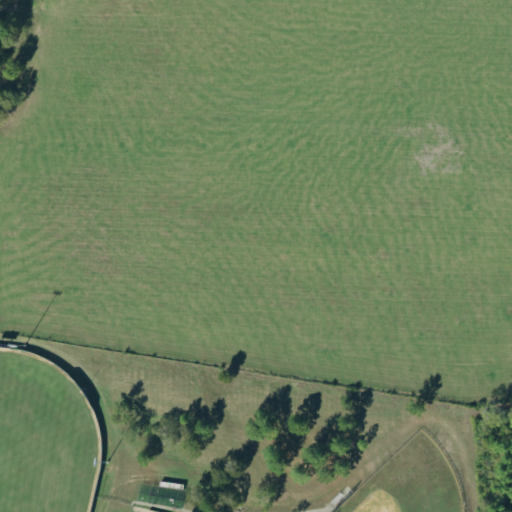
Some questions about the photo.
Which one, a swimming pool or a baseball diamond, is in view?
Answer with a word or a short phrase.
baseball diamond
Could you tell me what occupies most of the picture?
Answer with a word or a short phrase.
grass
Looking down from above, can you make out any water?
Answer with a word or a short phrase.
No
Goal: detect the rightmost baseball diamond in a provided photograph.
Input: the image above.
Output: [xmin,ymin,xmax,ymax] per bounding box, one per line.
[332,430,464,512]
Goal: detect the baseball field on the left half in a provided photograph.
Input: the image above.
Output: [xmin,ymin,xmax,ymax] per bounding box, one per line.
[0,348,102,512]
